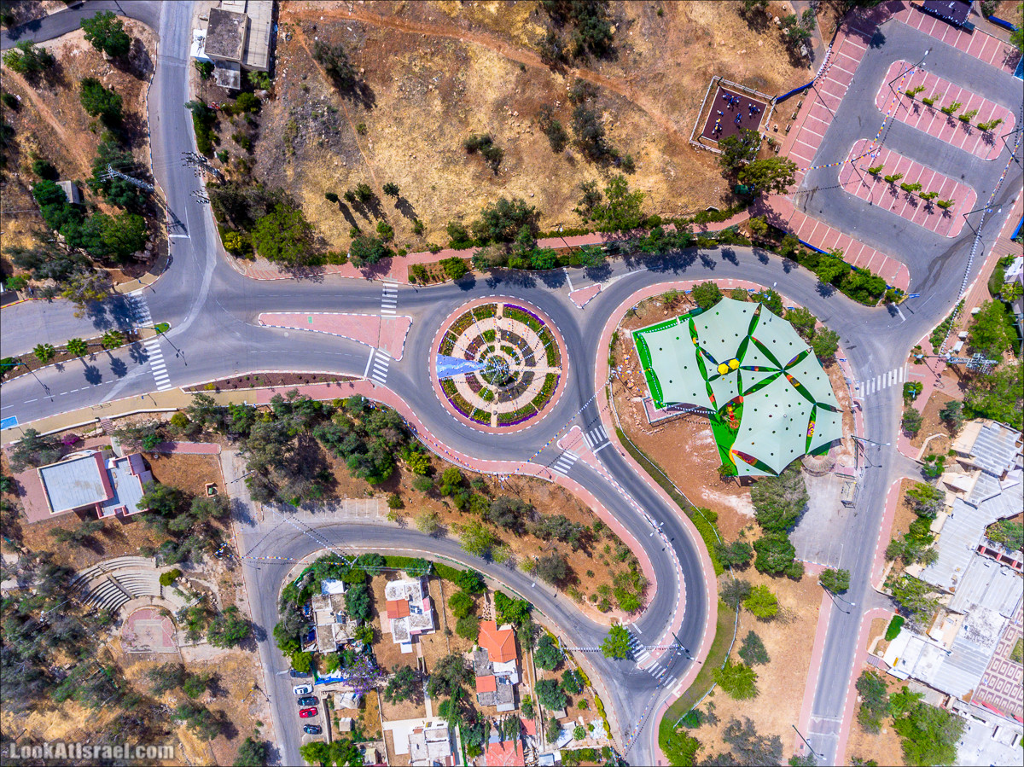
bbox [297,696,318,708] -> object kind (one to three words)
vehicle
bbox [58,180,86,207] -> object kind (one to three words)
shed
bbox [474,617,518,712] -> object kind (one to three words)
house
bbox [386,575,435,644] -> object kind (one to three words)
house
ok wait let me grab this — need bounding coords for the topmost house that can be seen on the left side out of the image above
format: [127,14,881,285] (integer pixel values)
[204,0,279,93]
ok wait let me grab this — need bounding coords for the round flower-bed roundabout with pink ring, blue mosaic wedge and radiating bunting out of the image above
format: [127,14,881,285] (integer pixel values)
[413,279,584,450]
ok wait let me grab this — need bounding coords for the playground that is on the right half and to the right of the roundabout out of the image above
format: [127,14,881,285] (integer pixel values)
[631,300,841,477]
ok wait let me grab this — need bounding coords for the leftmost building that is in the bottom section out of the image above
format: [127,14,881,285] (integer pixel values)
[36,449,160,518]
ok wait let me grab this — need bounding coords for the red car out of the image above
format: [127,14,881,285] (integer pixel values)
[297,707,319,720]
